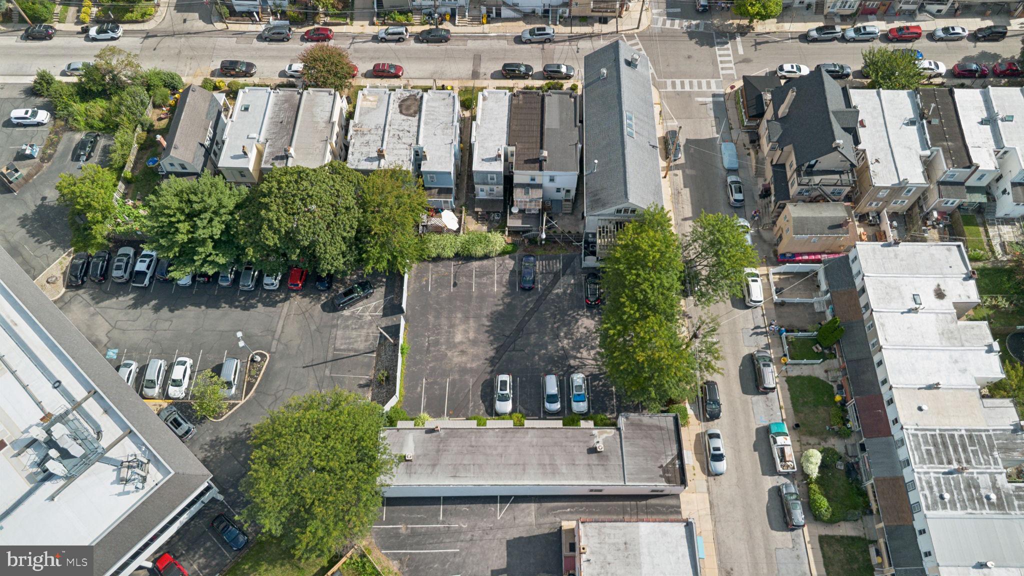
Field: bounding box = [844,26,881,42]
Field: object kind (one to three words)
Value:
car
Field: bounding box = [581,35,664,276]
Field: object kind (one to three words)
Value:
building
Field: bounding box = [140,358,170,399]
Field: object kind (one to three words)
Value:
car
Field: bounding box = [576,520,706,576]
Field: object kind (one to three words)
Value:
building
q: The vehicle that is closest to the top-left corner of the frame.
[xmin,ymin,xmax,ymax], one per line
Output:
[23,24,58,41]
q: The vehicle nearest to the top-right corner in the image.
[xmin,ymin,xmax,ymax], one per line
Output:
[973,25,1010,42]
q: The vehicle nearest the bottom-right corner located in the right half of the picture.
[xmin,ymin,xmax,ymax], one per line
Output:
[776,483,807,529]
